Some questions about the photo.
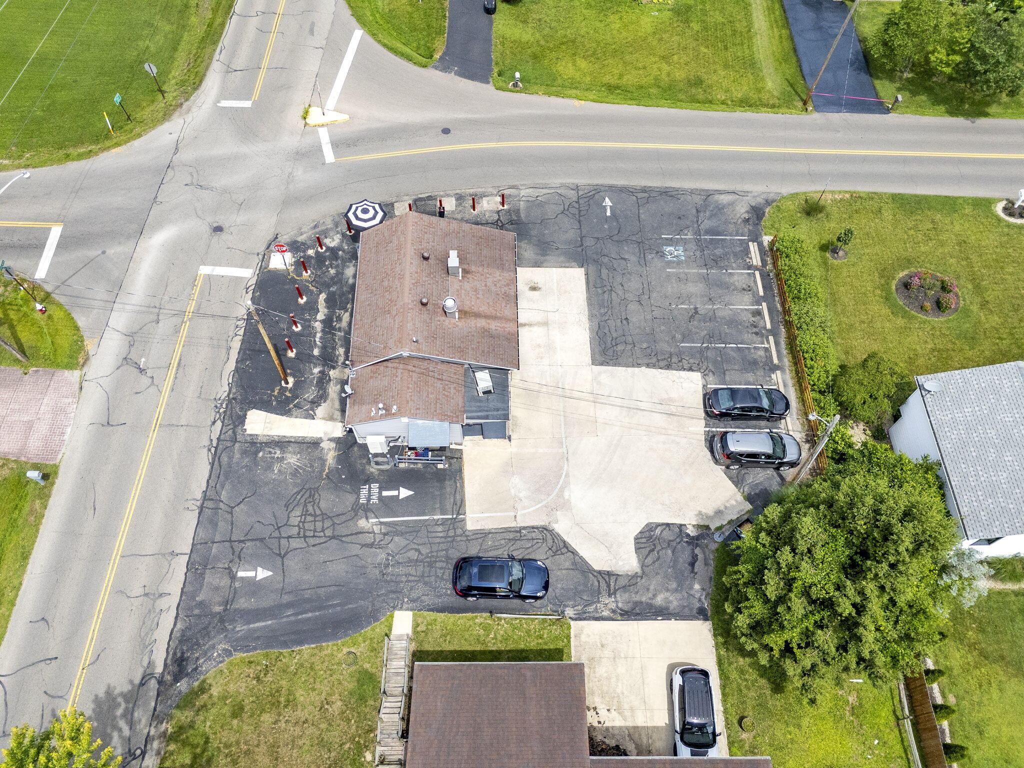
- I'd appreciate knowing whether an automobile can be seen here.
Yes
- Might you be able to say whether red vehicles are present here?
No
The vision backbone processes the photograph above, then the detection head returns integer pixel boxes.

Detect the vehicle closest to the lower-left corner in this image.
[453,554,549,604]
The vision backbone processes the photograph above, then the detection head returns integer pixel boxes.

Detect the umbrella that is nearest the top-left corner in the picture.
[345,201,388,232]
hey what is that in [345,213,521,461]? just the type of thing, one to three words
building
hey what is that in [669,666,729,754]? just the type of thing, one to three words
car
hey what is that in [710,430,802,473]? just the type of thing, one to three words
car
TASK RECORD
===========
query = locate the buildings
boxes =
[406,659,773,768]
[888,359,1024,558]
[345,213,521,461]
